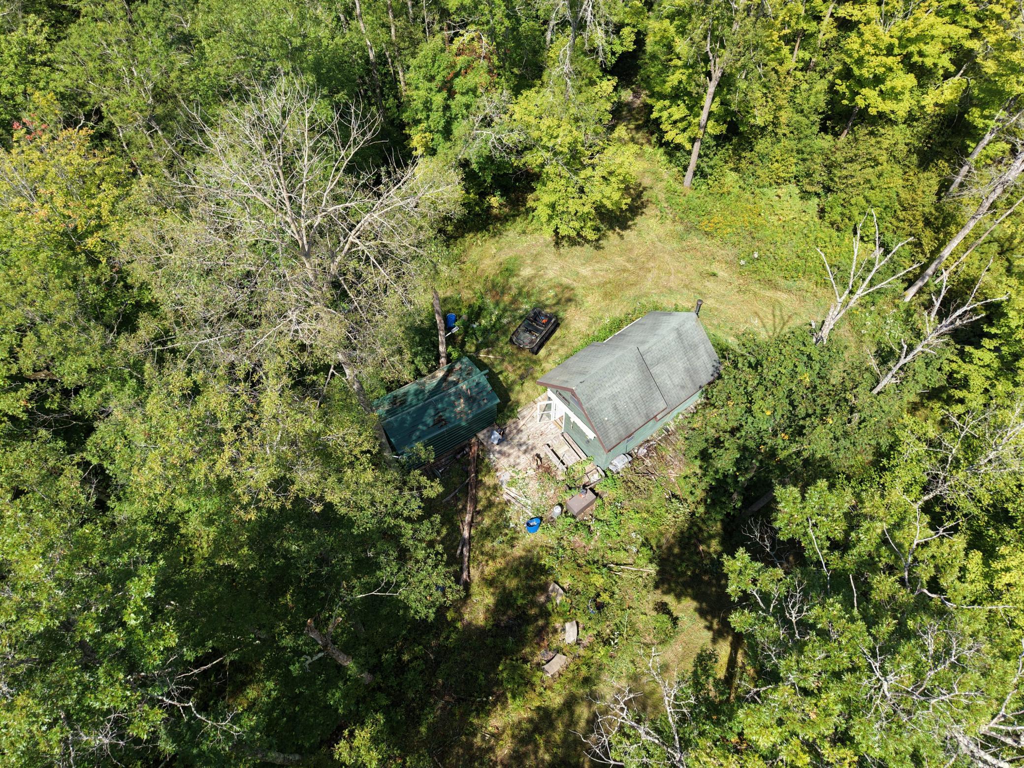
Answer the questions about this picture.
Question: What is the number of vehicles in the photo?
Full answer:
Just 1 vehicle appears in this view.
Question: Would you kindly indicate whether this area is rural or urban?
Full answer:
This place is rural.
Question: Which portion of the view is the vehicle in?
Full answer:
The vehicle is located in the center region of the scene.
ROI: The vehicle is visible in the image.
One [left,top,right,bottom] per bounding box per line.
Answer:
[508,309,560,357]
